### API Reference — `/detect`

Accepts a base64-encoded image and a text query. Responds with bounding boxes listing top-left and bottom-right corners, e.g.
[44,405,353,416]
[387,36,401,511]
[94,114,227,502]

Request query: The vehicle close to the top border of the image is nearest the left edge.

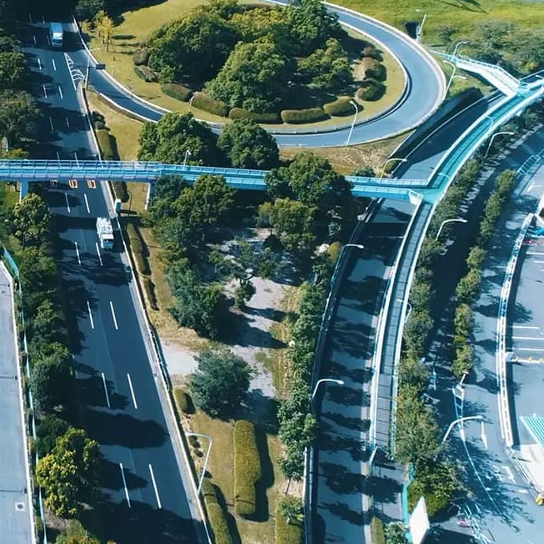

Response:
[49,21,63,46]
